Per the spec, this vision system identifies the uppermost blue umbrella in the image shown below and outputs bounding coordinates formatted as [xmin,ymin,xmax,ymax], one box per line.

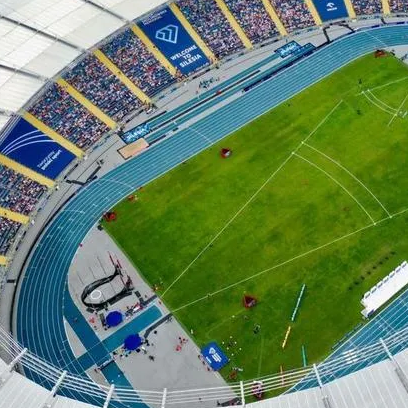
[103,310,123,327]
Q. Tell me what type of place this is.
sports ground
